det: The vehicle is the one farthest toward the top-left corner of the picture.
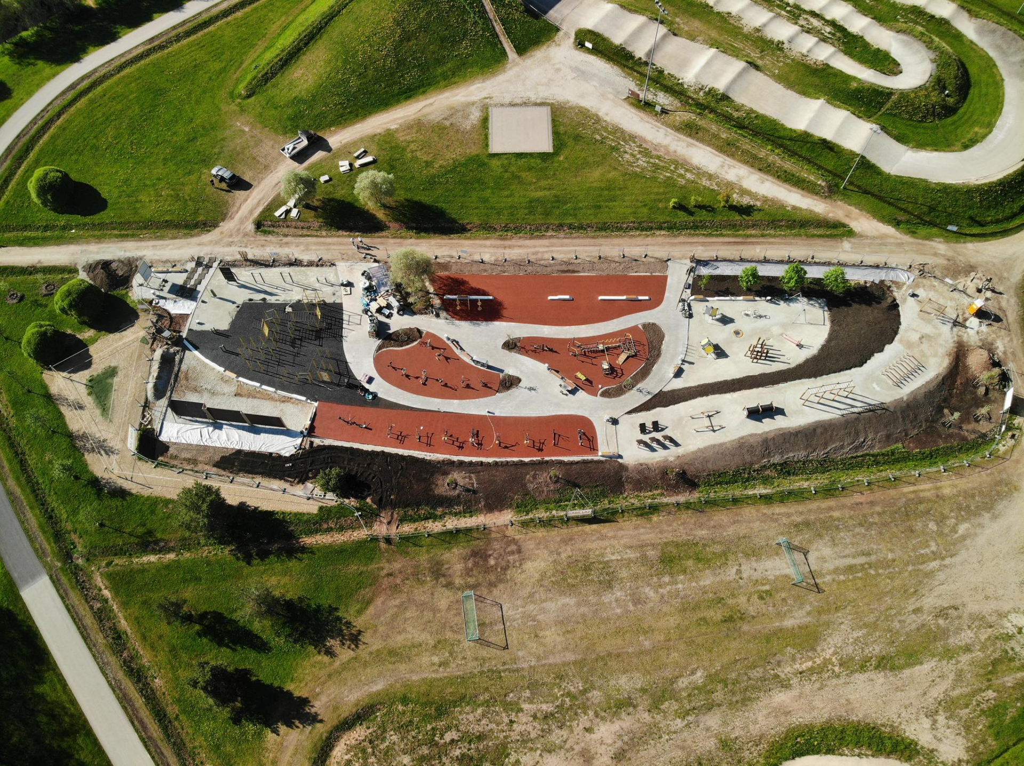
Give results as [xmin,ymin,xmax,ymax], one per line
[210,169,240,188]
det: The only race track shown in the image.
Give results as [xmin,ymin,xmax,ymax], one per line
[548,0,1024,178]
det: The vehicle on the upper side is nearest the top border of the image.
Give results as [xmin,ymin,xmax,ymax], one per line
[282,130,320,159]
